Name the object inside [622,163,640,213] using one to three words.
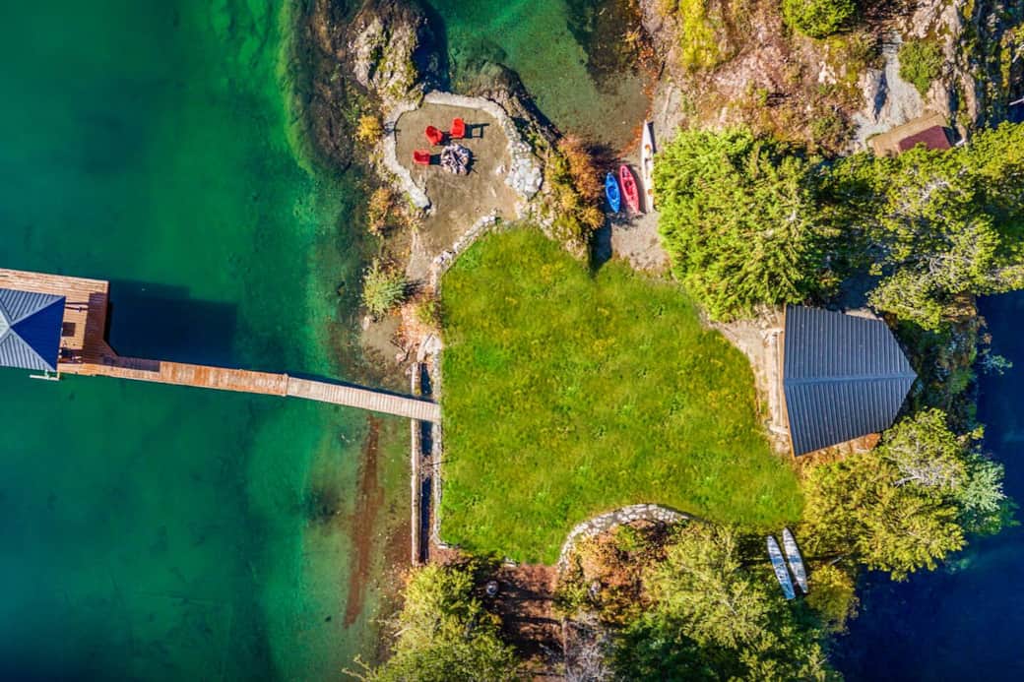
boat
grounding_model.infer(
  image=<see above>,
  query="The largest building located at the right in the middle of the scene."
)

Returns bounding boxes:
[778,305,918,457]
